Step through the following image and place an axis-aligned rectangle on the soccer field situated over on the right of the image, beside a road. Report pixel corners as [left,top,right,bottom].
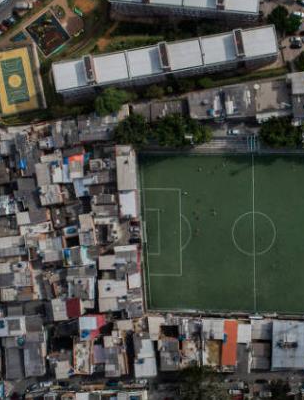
[139,150,304,316]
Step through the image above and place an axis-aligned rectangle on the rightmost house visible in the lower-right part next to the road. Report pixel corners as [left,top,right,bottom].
[273,319,304,371]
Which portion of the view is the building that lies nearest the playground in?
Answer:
top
